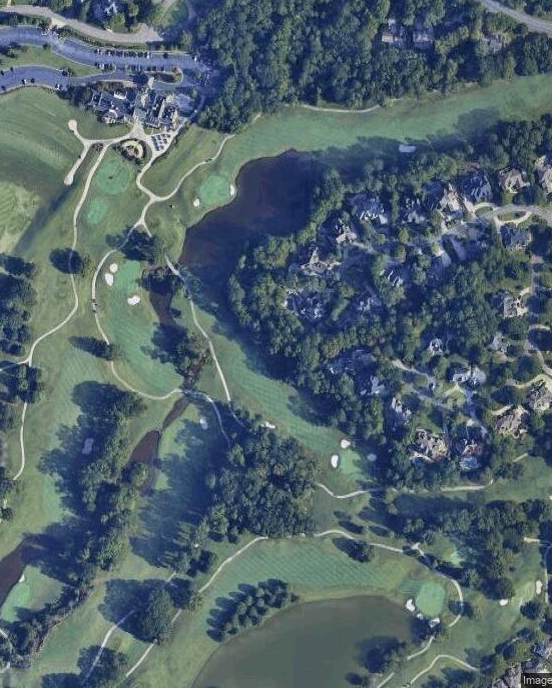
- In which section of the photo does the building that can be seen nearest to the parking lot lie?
top left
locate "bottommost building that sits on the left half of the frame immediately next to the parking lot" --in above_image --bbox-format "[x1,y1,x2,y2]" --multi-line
[88,80,181,133]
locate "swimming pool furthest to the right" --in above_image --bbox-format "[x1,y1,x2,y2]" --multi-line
[464,456,483,471]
